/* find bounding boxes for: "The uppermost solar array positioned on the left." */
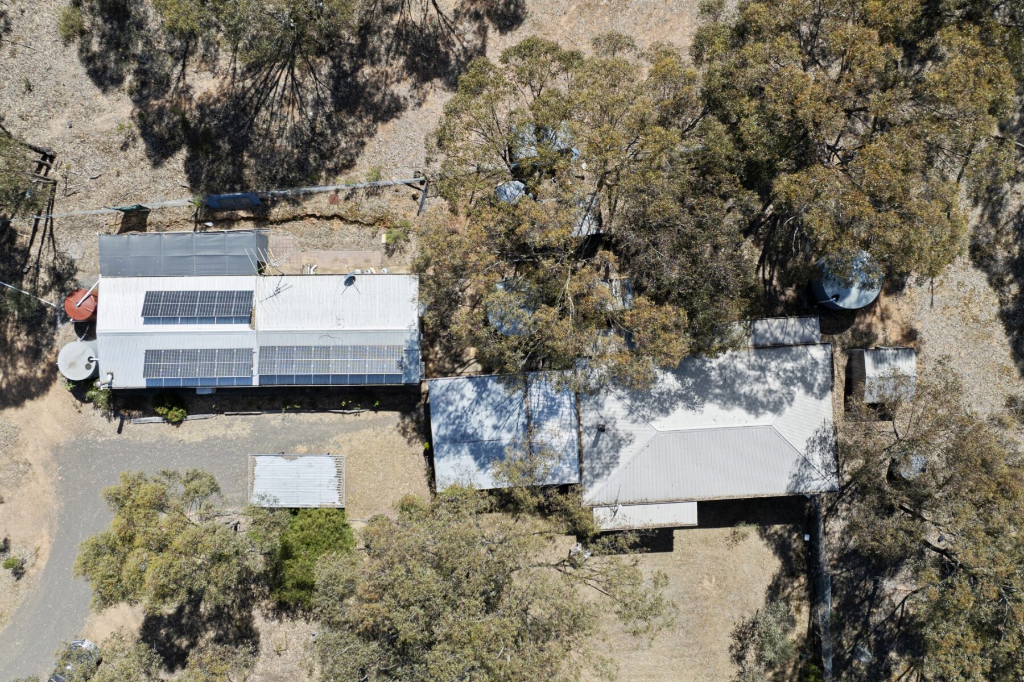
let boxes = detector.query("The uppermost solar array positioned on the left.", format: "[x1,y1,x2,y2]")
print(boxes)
[141,291,254,316]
